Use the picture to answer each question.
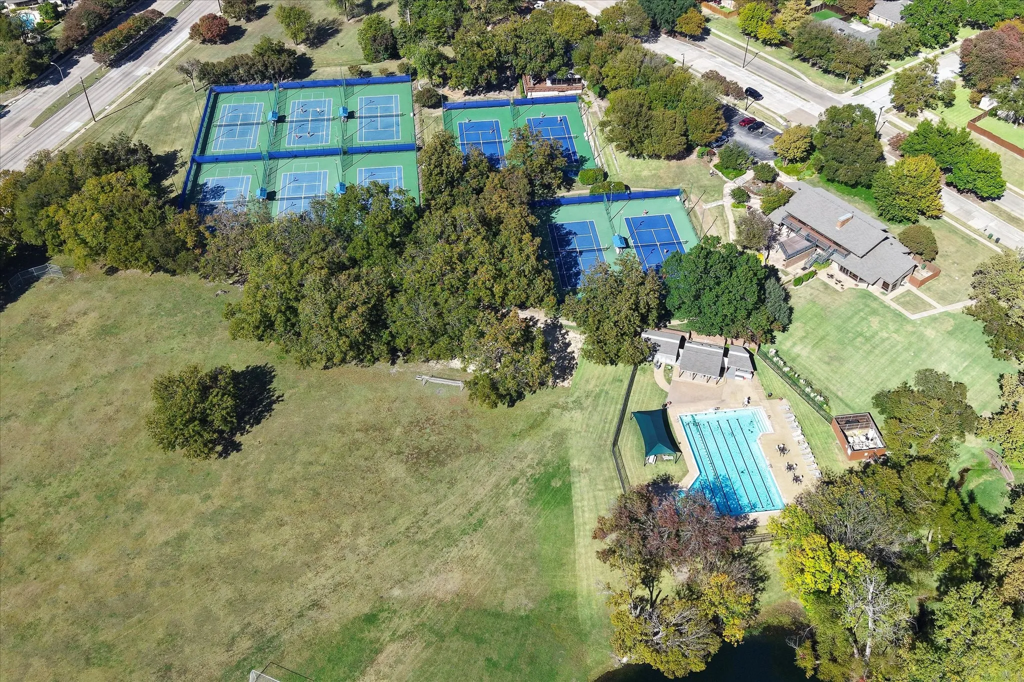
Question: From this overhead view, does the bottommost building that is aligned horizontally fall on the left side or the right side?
right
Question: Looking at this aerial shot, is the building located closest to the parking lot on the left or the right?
right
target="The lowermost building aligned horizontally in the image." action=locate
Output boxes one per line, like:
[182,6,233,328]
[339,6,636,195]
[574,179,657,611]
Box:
[644,330,756,385]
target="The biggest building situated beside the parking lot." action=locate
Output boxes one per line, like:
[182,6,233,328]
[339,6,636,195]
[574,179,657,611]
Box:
[767,182,917,293]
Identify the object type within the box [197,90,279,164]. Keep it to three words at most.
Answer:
tennis court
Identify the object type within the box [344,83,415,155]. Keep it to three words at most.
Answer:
tennis court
